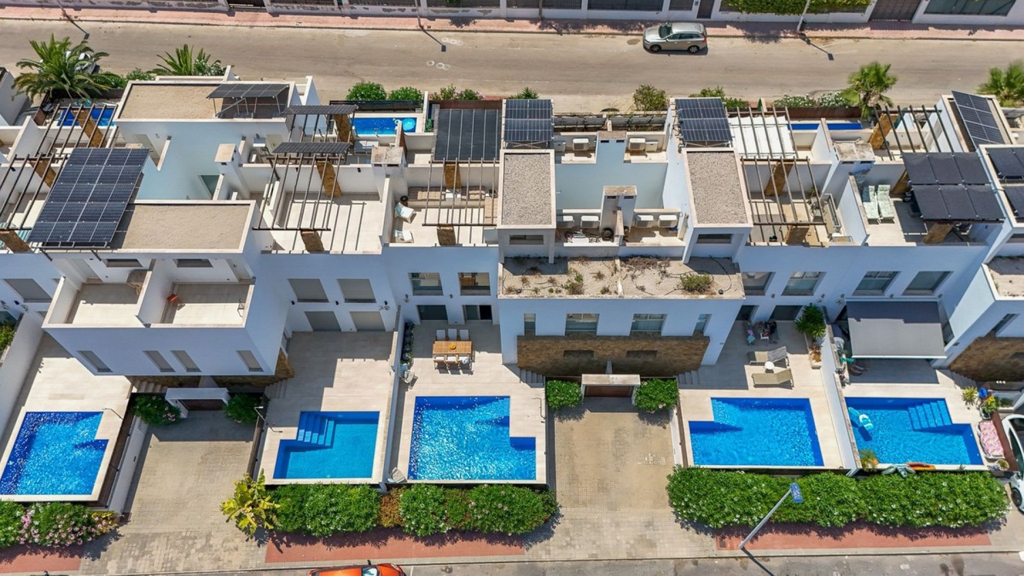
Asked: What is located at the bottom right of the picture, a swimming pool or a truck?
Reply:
swimming pool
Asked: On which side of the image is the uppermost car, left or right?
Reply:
right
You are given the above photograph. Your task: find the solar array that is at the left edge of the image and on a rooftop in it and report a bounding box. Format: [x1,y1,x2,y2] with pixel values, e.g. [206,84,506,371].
[27,155,150,249]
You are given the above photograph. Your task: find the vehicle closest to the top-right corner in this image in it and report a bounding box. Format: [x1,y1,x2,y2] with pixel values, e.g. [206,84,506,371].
[642,22,709,56]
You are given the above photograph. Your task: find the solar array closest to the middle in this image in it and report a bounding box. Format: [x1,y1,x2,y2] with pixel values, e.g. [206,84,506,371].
[501,97,554,149]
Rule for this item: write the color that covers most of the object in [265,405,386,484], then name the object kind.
blue swimming pool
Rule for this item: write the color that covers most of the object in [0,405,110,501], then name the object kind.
blue swimming pool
